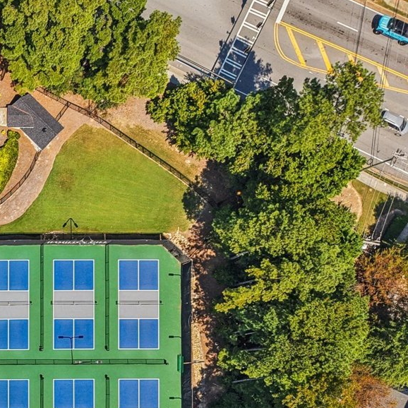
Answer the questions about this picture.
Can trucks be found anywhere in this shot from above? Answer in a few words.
No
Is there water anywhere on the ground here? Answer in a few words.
No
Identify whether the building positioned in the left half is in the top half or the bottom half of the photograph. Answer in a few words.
top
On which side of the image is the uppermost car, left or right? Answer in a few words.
right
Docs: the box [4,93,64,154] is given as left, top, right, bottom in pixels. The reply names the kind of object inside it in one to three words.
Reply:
building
